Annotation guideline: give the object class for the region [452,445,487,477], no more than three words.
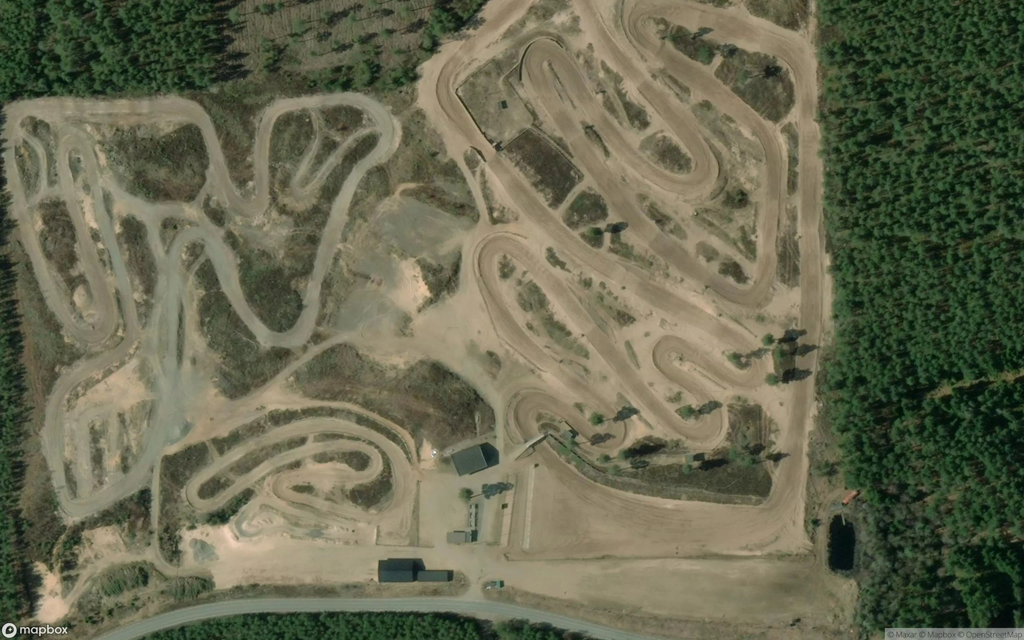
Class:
building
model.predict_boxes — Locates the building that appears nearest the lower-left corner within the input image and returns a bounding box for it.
[378,560,413,582]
